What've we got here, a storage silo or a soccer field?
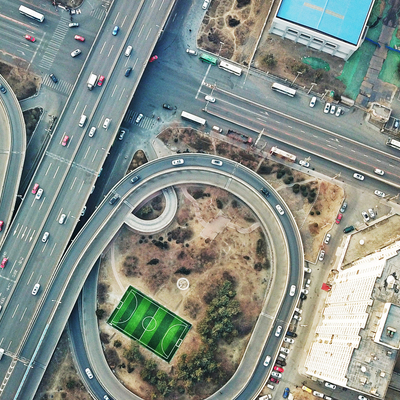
soccer field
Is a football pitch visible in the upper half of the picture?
No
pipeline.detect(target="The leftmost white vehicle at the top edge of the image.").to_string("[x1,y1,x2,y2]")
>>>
[18,5,46,24]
